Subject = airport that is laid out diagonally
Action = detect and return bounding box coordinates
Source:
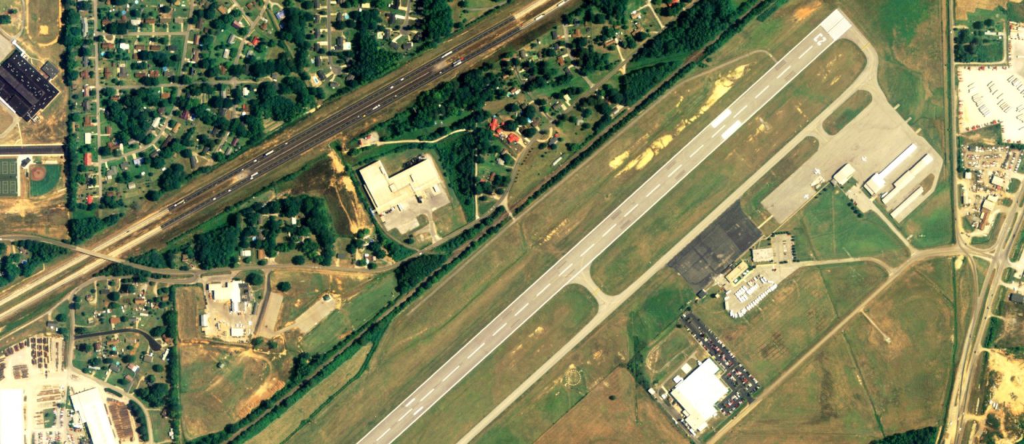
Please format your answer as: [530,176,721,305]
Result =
[357,9,943,444]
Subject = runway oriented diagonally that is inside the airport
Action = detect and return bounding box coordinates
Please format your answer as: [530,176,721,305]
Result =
[357,9,852,444]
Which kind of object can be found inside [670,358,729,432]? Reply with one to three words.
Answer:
building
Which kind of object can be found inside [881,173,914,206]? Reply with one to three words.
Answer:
hangar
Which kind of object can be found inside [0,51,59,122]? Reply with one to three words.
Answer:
building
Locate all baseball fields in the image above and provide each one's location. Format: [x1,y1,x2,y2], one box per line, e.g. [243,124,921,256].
[29,164,61,198]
